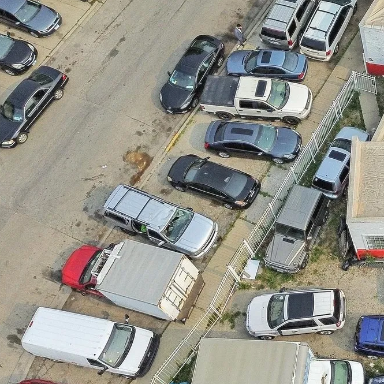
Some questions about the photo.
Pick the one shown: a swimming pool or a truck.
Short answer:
truck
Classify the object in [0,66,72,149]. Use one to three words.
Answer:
car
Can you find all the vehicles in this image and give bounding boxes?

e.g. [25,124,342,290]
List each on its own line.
[201,119,304,167]
[0,32,40,80]
[0,0,63,40]
[165,156,263,212]
[352,313,384,361]
[260,177,329,280]
[310,125,369,207]
[102,180,214,261]
[191,339,367,384]
[257,0,317,49]
[226,43,310,83]
[297,0,359,65]
[0,66,72,149]
[65,235,210,321]
[197,72,314,122]
[13,302,161,382]
[247,286,348,339]
[162,32,228,114]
